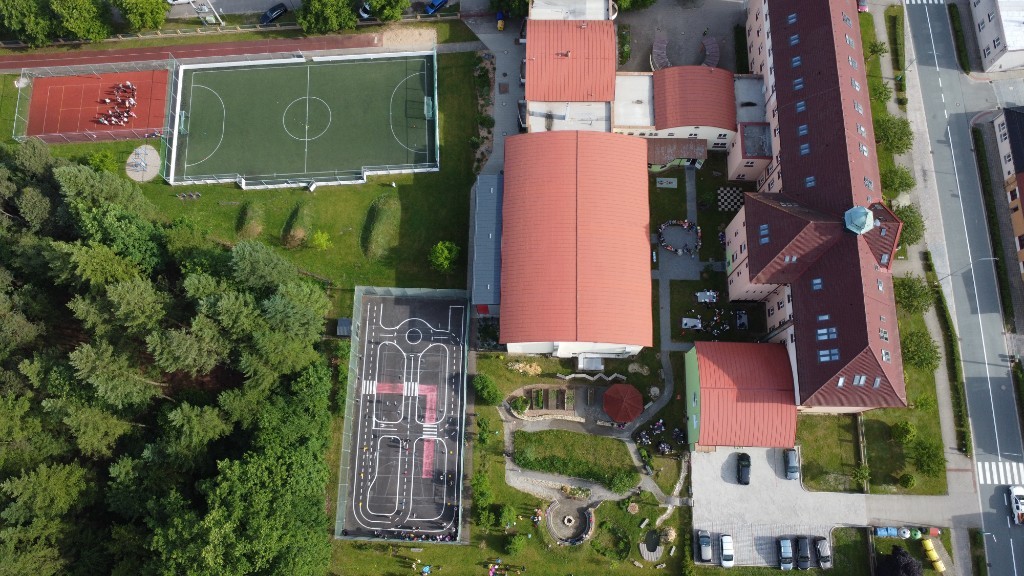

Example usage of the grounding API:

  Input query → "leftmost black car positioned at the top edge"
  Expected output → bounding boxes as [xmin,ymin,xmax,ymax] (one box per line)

[260,5,287,25]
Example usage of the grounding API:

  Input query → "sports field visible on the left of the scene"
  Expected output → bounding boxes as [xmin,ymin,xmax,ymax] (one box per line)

[163,44,439,190]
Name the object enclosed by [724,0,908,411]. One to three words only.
building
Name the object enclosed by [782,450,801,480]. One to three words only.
car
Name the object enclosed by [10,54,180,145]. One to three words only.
tennis court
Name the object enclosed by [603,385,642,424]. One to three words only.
gazebo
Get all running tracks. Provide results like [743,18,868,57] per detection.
[0,31,382,69]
